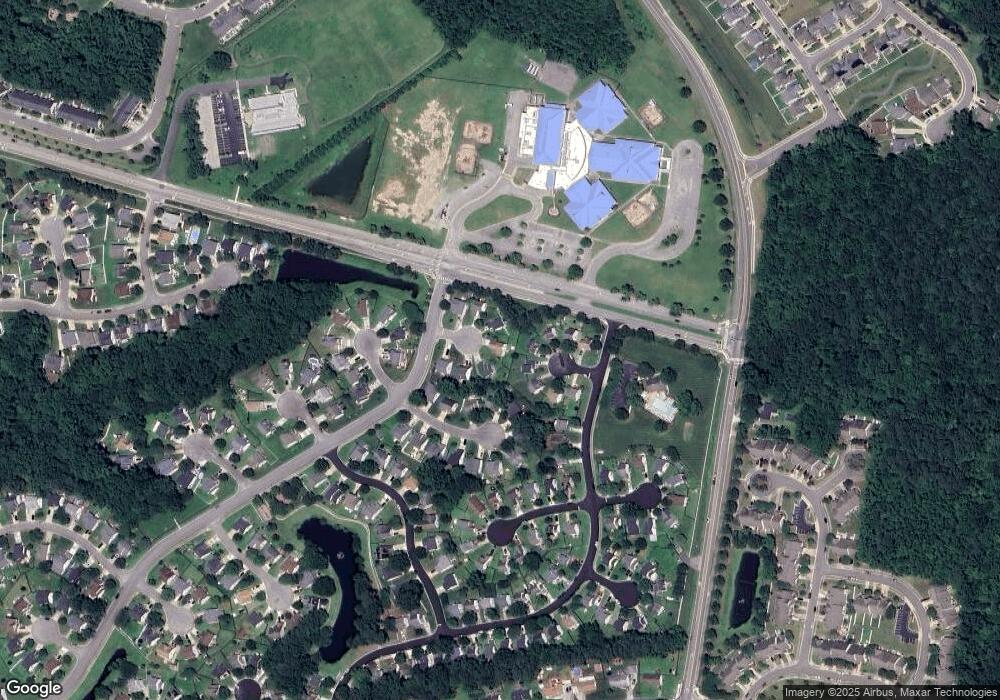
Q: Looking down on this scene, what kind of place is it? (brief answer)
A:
residential area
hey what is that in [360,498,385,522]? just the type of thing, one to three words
house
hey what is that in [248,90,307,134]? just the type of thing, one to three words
building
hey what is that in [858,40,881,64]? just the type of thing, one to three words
house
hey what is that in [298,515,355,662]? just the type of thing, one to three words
pond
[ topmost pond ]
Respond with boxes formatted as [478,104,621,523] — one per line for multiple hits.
[311,141,372,203]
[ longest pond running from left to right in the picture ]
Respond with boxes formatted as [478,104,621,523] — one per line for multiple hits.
[277,250,418,297]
